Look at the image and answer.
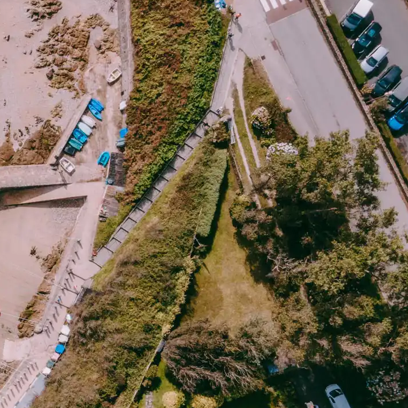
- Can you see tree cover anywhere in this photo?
Yes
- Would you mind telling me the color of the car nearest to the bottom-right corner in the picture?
blue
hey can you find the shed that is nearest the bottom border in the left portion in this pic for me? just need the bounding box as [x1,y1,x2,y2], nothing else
[100,188,119,218]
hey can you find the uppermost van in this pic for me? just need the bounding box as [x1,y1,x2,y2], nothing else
[342,0,383,38]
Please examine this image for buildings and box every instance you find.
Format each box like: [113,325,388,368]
[100,188,119,218]
[106,152,125,187]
